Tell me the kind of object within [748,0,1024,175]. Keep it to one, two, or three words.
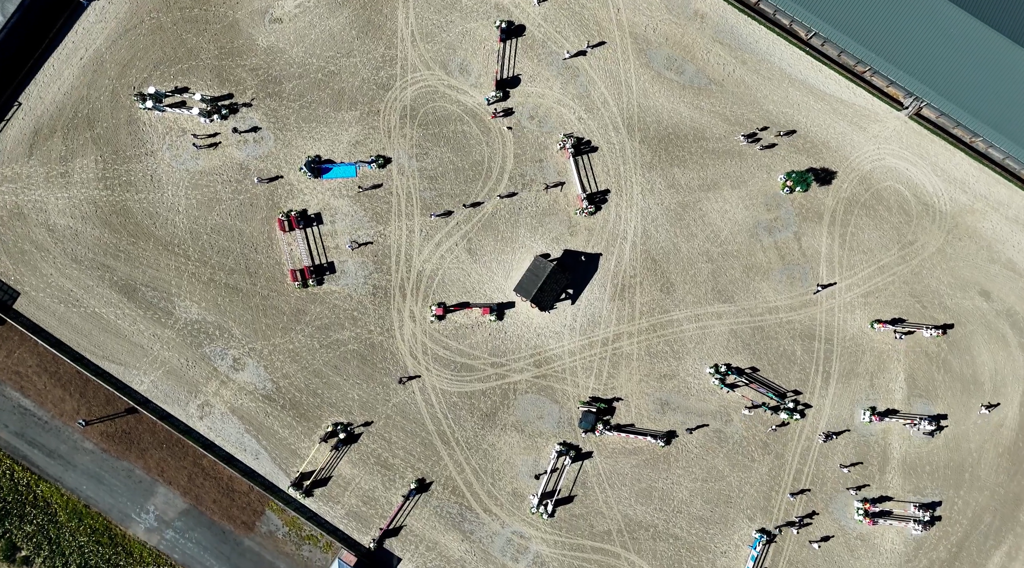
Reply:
barn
